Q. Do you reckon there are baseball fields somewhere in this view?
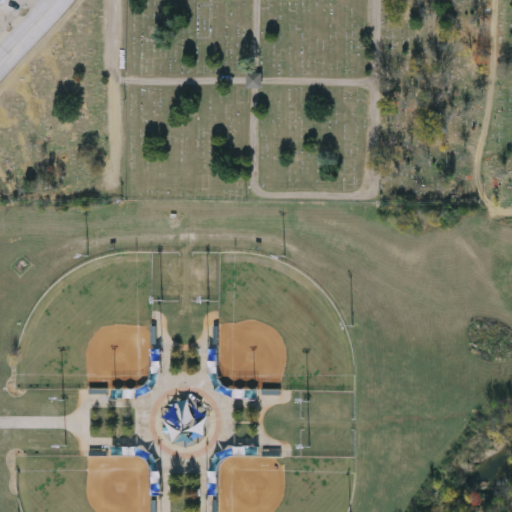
Yes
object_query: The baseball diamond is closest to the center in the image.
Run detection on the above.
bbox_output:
[219,253,354,392]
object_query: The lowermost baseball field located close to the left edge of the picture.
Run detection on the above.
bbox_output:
[18,457,152,512]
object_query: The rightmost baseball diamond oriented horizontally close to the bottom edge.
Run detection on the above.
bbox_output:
[219,458,354,512]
